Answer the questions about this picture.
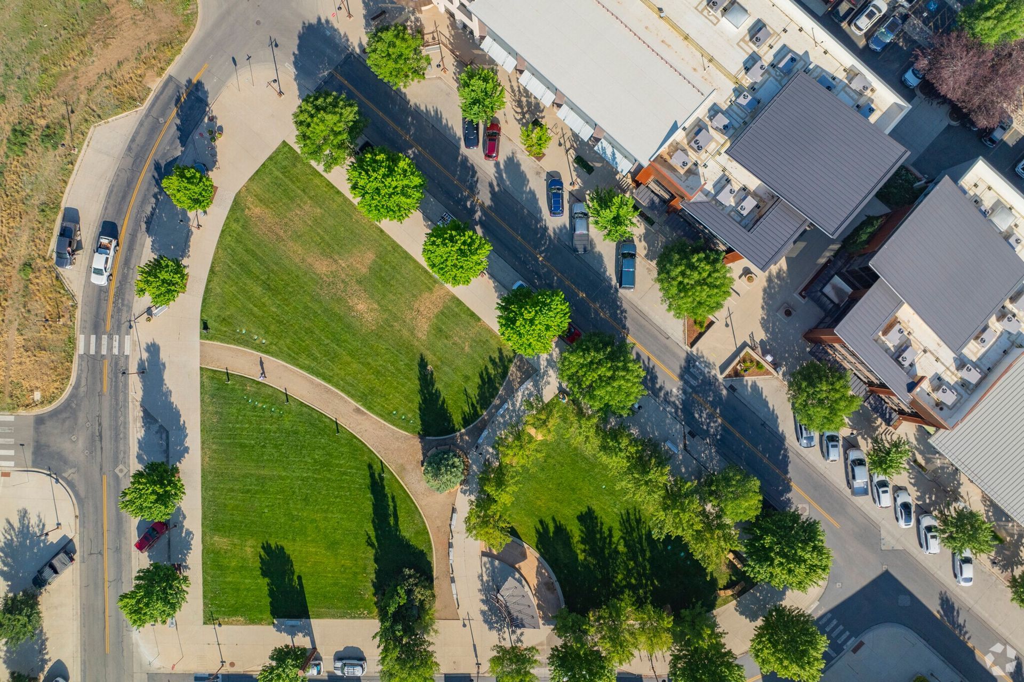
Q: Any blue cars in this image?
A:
Yes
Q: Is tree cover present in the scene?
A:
Yes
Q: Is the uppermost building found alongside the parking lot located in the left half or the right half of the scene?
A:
right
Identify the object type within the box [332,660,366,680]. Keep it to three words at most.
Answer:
car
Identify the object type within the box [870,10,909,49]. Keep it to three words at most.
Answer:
car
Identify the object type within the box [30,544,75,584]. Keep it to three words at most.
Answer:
truck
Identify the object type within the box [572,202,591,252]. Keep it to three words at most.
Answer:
vehicle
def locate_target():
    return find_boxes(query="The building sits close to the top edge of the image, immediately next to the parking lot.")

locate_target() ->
[431,0,910,271]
